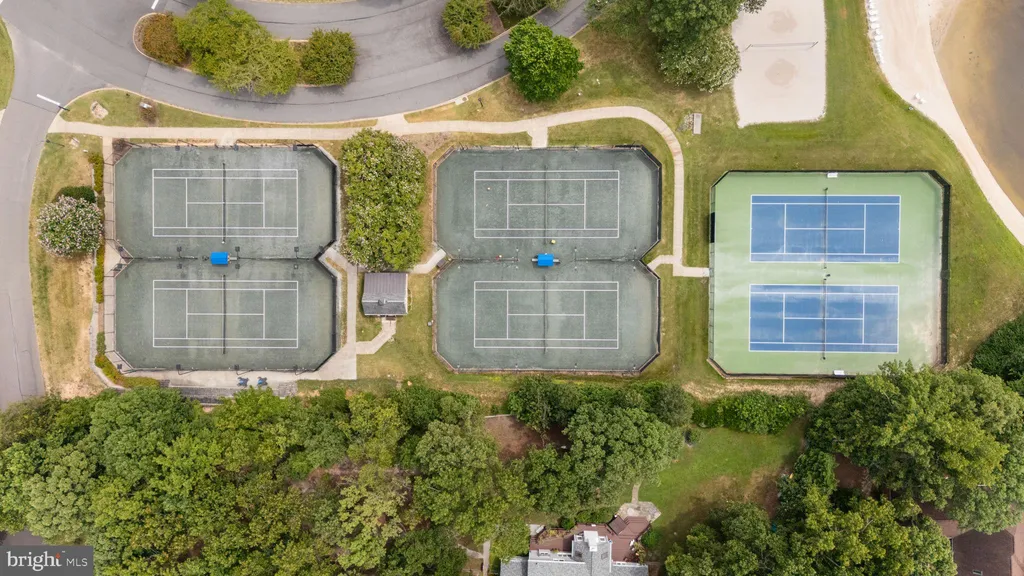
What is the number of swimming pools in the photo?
0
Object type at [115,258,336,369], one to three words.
tennis court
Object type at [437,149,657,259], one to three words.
tennis court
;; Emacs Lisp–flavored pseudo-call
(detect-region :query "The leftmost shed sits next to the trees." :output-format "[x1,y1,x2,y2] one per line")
[362,273,409,320]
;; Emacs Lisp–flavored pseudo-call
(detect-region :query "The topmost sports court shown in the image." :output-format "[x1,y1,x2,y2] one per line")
[732,0,827,127]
